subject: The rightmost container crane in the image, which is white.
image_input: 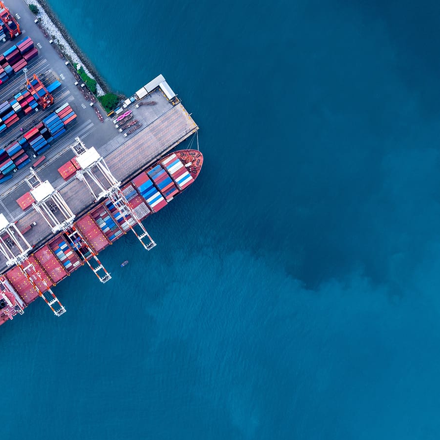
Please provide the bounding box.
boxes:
[67,135,157,250]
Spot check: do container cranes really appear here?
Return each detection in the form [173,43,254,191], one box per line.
[0,213,67,316]
[0,2,23,45]
[24,73,55,112]
[67,135,157,250]
[21,168,111,283]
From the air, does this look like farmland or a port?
port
